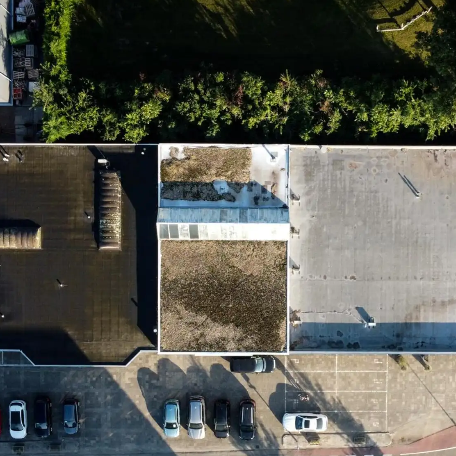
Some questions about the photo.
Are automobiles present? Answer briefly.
Yes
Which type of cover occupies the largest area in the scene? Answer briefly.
buildings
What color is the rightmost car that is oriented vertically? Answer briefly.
black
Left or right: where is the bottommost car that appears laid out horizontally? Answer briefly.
right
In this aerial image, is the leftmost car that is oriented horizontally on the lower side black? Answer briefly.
Yes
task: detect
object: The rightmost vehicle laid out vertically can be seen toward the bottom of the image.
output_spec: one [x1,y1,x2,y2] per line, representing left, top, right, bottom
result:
[237,399,257,440]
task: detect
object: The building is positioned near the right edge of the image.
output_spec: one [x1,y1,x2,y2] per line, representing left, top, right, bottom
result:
[289,146,456,355]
